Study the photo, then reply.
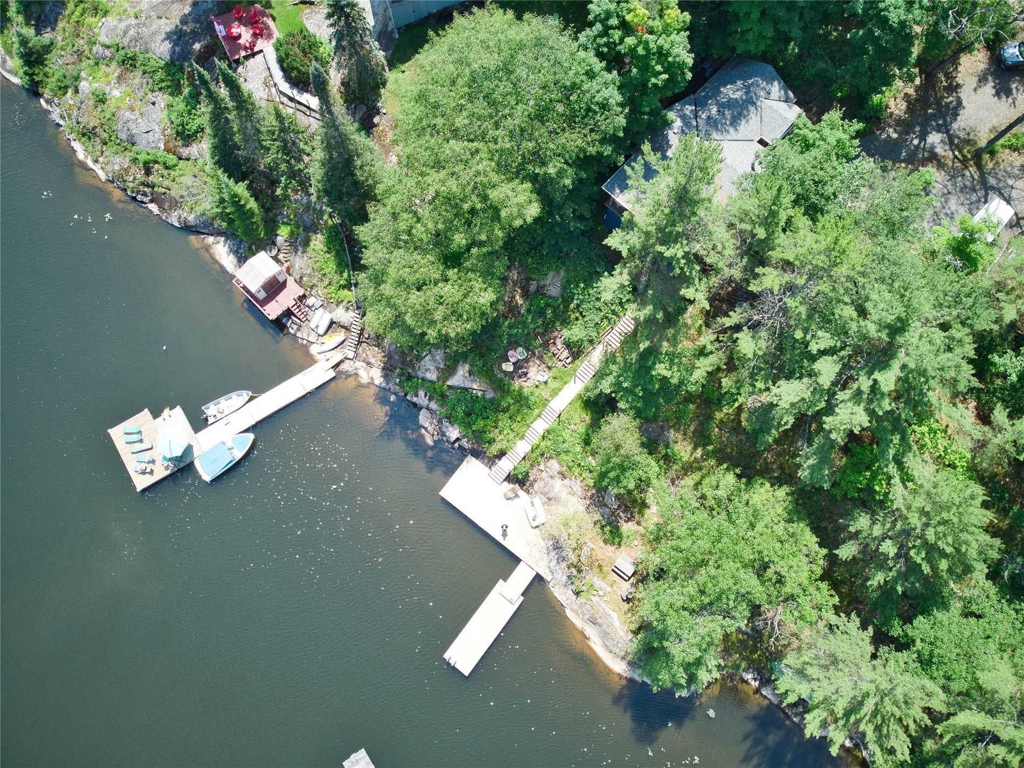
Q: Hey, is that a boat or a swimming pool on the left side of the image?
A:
boat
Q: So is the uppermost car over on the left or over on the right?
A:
right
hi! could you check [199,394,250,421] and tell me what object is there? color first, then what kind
white boat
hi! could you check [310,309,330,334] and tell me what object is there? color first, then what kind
white boat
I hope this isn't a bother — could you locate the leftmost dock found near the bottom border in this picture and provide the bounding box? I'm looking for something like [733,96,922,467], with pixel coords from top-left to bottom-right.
[343,748,375,768]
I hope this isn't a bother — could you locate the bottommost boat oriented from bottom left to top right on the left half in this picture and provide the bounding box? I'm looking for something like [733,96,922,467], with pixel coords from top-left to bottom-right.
[197,437,253,481]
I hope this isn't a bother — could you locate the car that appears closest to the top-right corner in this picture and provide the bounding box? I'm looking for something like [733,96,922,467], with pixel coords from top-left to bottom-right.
[1003,40,1024,68]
